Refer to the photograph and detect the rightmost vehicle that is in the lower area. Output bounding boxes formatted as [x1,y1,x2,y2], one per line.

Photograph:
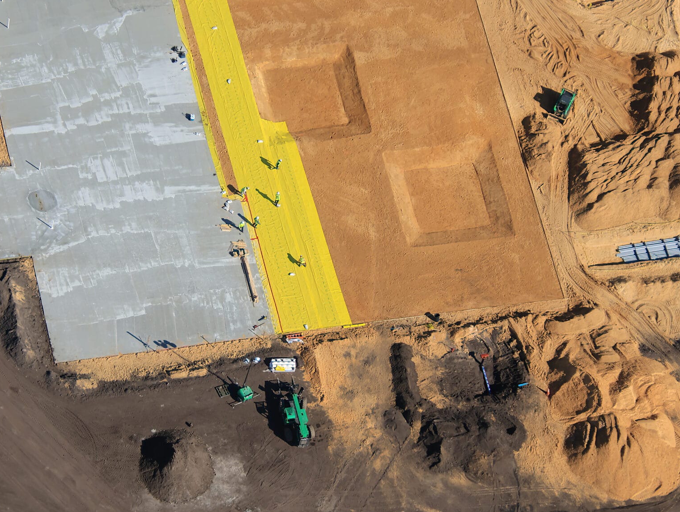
[273,377,318,452]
